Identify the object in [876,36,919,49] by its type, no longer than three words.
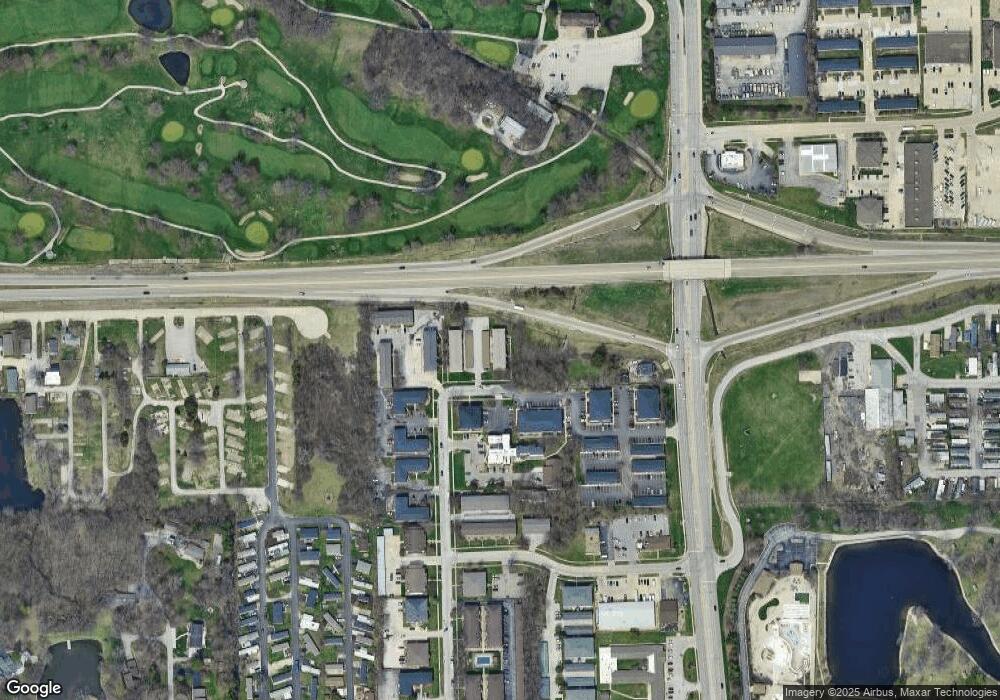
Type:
building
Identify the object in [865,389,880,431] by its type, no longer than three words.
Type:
shed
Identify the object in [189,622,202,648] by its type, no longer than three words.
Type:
house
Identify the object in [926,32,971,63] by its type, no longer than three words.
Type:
building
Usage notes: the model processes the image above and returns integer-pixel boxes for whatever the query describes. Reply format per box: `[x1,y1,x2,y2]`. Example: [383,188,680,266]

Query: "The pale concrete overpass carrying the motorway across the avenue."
[663,259,732,280]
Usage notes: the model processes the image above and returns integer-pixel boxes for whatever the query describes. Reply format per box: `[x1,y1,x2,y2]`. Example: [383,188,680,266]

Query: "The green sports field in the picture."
[723,350,827,494]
